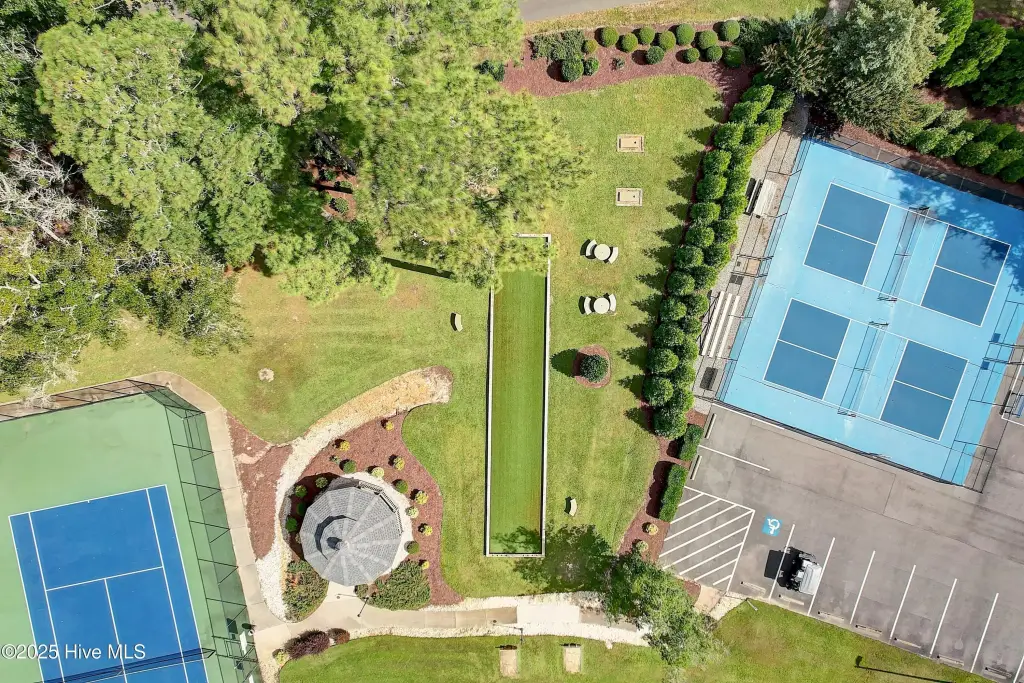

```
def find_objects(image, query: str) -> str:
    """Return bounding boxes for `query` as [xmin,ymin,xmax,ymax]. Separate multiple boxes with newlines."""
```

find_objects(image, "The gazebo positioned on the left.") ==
[301,472,414,587]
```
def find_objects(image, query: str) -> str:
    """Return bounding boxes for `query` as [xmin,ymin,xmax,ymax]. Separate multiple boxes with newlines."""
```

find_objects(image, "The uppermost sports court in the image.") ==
[761,138,1024,354]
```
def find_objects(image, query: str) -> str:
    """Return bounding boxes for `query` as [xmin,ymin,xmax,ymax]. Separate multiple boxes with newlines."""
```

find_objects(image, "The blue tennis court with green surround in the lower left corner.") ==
[0,387,264,683]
